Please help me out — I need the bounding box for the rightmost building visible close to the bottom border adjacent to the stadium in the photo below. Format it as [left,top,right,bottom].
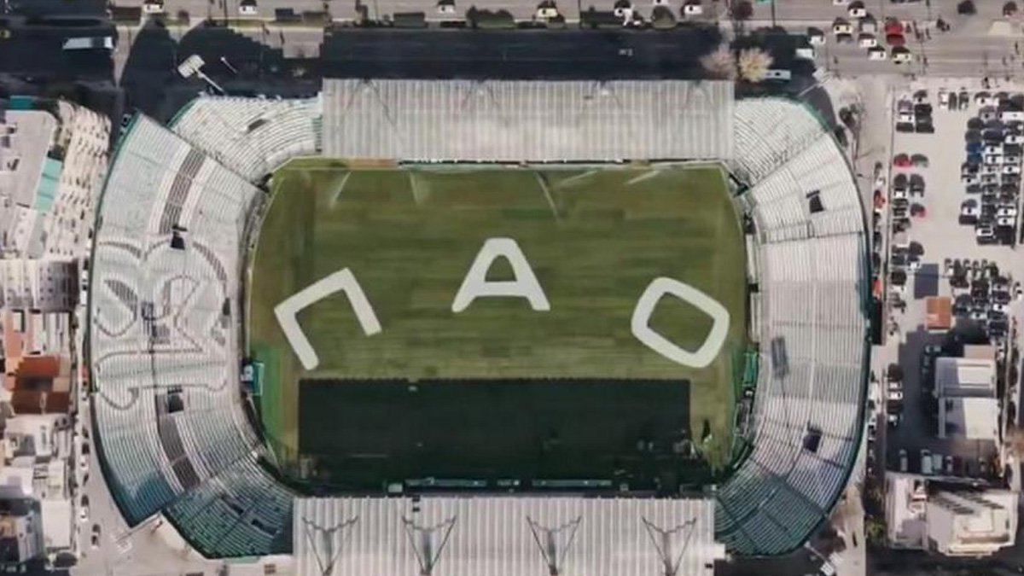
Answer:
[909,467,1017,557]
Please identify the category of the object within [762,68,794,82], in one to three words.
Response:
vehicle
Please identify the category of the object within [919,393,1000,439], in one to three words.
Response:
building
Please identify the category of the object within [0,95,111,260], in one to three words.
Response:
building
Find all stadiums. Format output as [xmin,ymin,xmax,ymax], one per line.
[85,79,872,576]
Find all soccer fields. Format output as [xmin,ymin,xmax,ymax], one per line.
[248,159,751,492]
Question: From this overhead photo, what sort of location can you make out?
sports ground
